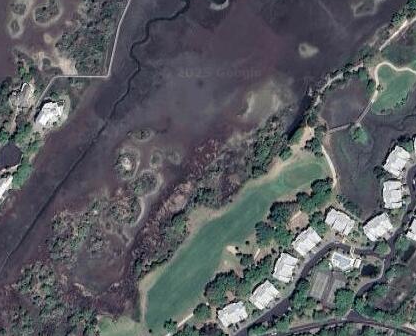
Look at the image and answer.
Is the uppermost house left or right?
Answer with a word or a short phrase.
left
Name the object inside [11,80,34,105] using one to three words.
house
